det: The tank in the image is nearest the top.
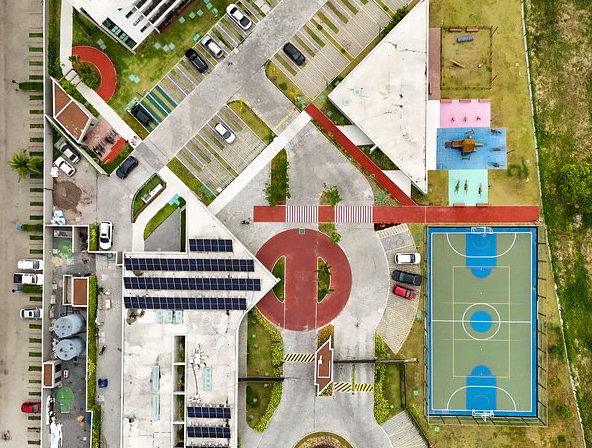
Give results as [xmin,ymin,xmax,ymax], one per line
[53,310,86,337]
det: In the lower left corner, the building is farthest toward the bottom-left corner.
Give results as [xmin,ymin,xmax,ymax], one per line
[43,359,62,387]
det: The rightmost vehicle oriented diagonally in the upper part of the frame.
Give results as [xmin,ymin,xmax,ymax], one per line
[281,40,308,67]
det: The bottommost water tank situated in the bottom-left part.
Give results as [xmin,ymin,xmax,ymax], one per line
[59,331,88,359]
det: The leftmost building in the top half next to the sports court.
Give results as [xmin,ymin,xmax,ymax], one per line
[328,0,429,194]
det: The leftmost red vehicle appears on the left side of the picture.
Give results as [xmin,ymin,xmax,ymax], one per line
[20,399,42,414]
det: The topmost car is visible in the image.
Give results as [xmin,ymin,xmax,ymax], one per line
[226,3,253,32]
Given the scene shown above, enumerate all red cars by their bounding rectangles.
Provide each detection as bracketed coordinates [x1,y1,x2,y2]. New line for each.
[20,399,42,414]
[391,284,418,300]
